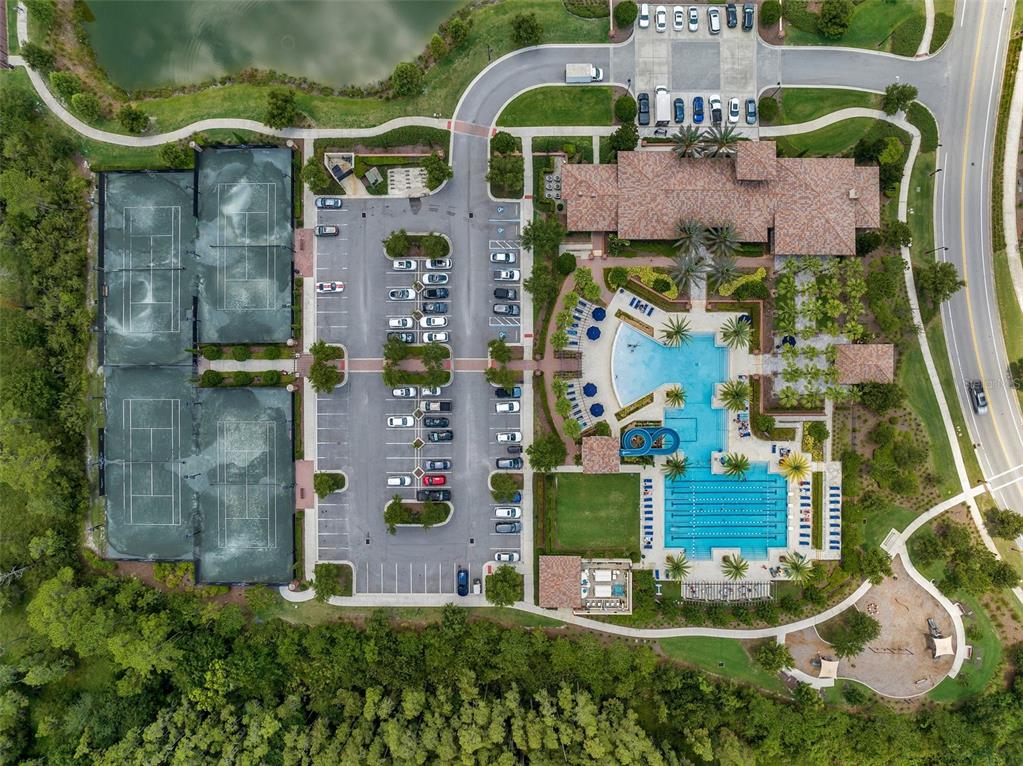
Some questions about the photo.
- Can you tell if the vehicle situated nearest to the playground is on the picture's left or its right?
right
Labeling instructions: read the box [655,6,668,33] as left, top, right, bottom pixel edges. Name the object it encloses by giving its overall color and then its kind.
white vehicle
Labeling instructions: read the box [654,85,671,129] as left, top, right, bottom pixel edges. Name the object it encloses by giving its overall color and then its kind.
white vehicle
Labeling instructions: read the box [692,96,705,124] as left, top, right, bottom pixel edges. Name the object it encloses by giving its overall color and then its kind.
blue vehicle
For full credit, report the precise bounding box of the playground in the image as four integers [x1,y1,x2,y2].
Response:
[785,549,956,697]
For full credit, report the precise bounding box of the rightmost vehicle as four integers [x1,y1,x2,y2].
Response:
[968,381,989,415]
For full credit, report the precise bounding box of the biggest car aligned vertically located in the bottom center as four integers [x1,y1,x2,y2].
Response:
[456,568,469,594]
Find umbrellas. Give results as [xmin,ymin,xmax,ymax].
[582,383,597,397]
[780,334,794,346]
[591,306,606,322]
[737,312,751,326]
[589,402,604,417]
[585,325,601,340]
